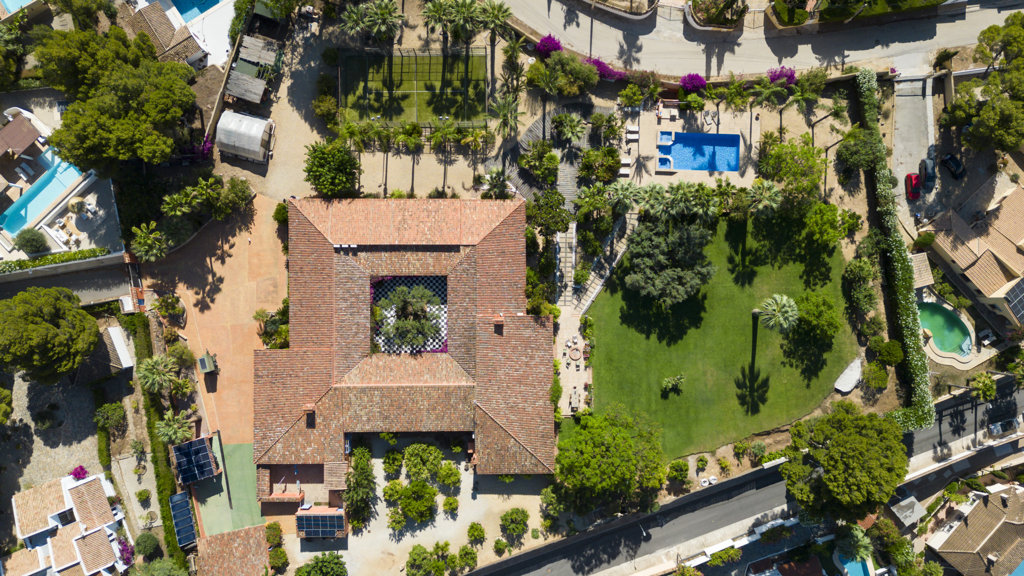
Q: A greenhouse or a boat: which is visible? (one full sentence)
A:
Looking from above, you can make out a greenhouse.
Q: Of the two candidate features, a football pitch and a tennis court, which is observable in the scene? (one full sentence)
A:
Looking from above, you can make out a tennis court.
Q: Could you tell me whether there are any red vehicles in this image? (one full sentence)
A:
Yes, a red vehicle appears in the view.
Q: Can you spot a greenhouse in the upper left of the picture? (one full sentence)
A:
Yes, a greenhouse shows up in the upper left of the picture.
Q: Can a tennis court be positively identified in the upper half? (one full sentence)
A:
Yes, a tennis court shows up in the upper half.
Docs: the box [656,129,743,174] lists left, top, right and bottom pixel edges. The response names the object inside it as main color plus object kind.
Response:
blue swimming pool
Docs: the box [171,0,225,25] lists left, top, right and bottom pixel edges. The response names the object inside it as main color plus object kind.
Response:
blue swimming pool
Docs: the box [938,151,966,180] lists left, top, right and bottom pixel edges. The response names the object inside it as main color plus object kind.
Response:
black car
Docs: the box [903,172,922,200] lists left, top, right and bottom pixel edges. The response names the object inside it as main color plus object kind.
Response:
red car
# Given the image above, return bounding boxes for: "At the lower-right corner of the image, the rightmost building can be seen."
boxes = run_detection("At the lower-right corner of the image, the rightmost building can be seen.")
[917,485,1024,576]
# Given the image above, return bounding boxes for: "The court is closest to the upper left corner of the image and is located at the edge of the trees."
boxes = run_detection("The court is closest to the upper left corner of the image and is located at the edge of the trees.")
[339,52,488,127]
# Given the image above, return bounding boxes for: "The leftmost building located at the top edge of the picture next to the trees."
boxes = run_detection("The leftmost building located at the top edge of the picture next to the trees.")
[127,2,215,70]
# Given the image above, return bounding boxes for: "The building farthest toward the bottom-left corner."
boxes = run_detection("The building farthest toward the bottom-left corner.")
[0,468,135,576]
